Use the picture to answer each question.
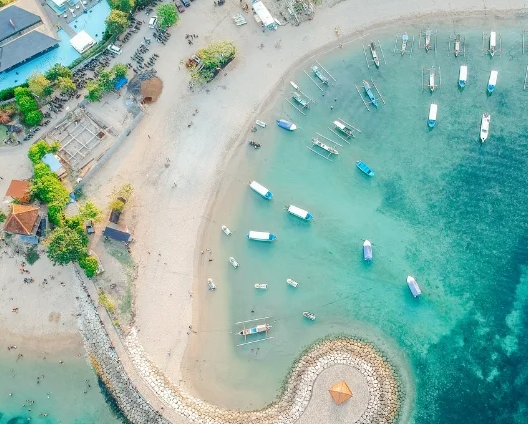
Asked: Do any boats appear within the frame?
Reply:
Yes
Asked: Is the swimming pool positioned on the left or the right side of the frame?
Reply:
left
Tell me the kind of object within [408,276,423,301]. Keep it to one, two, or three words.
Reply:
boat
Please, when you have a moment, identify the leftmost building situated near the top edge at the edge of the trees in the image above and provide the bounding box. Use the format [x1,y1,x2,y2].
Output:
[0,0,66,75]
